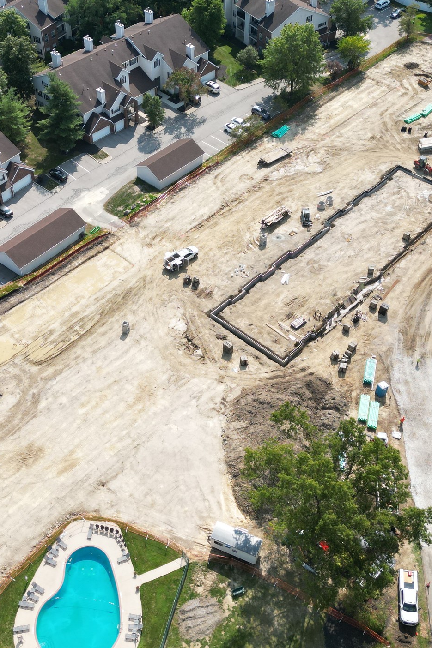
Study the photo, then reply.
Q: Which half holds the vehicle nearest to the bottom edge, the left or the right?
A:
right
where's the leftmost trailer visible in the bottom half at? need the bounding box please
[212,519,264,563]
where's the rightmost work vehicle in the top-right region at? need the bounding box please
[414,157,432,176]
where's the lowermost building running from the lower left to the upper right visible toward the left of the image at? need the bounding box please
[0,203,88,275]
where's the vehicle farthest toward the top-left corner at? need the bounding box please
[48,168,70,183]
